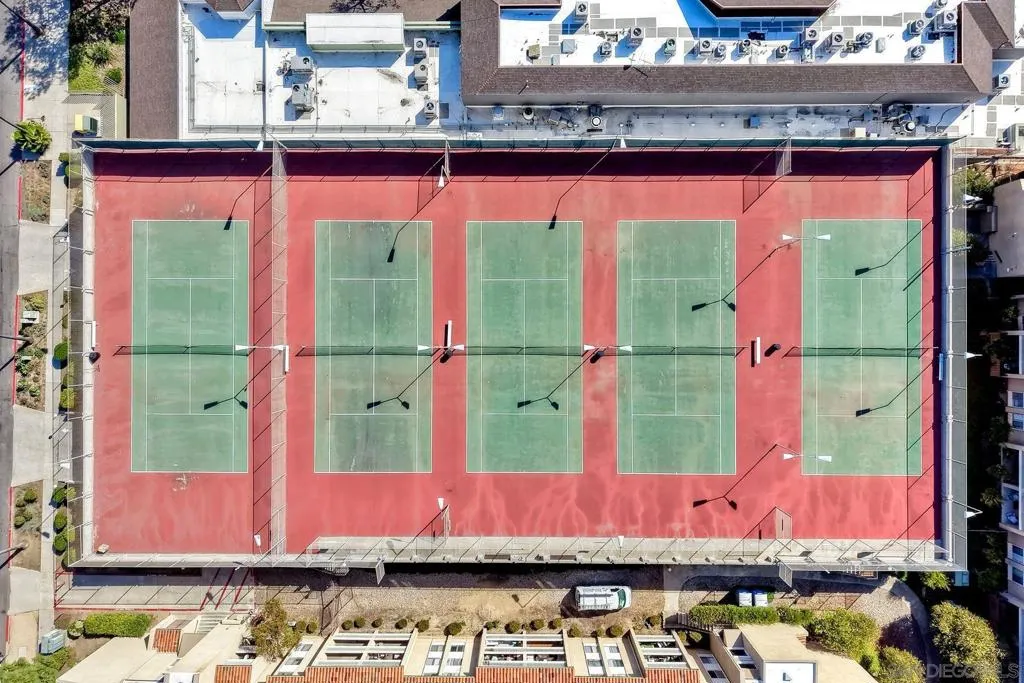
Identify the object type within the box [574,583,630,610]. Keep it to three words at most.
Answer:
vehicle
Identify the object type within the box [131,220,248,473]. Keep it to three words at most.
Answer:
tennis court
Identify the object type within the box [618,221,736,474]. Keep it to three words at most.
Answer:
tennis court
